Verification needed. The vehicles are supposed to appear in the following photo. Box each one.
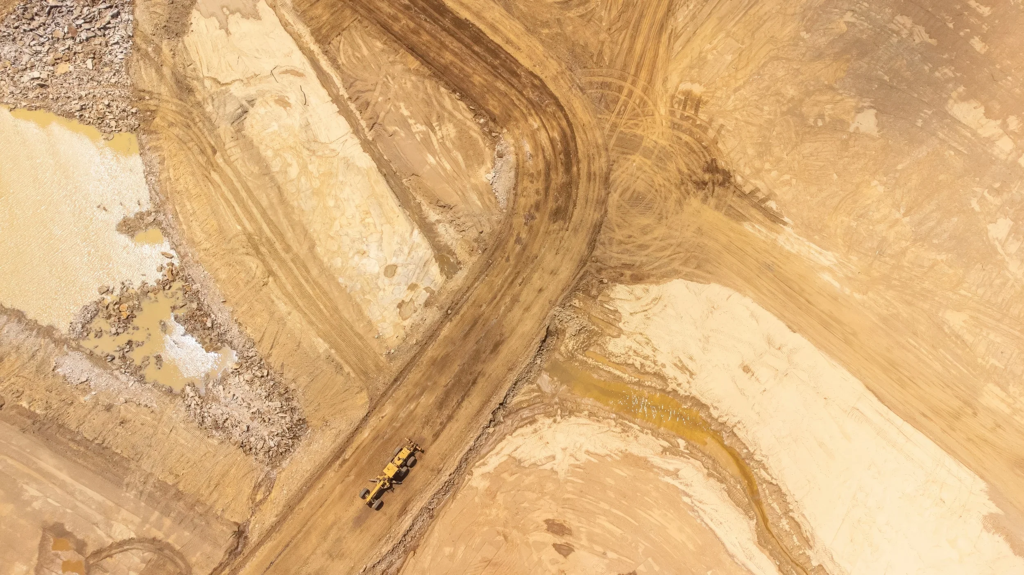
[358,435,423,509]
